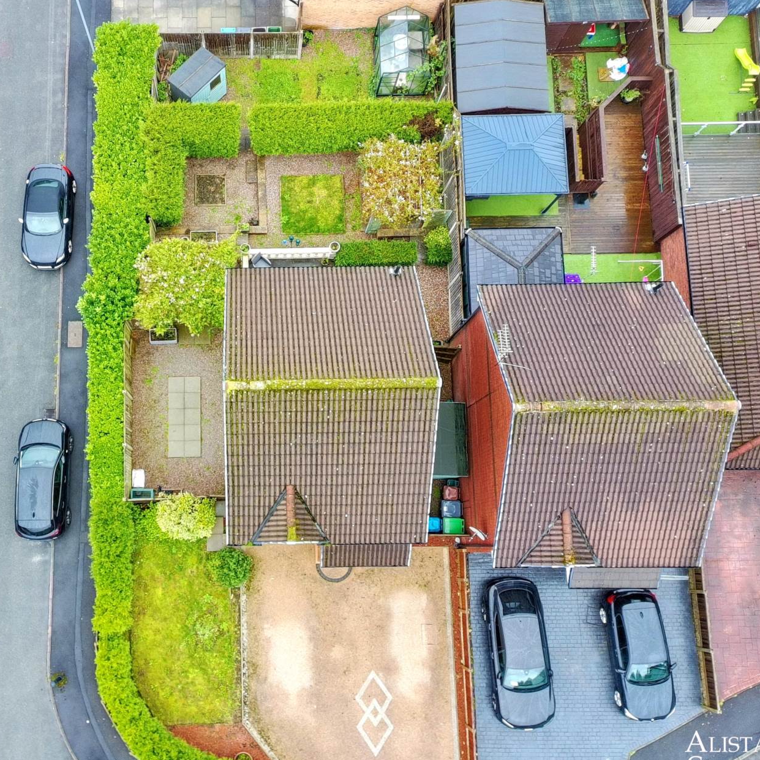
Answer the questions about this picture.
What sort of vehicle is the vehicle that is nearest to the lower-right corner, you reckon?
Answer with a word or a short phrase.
car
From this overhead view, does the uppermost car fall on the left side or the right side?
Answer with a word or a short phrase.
left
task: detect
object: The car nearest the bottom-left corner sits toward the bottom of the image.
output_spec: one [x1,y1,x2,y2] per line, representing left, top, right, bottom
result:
[7,419,71,538]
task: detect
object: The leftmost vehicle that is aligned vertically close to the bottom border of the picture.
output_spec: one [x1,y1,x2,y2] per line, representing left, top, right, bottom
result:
[482,576,561,731]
